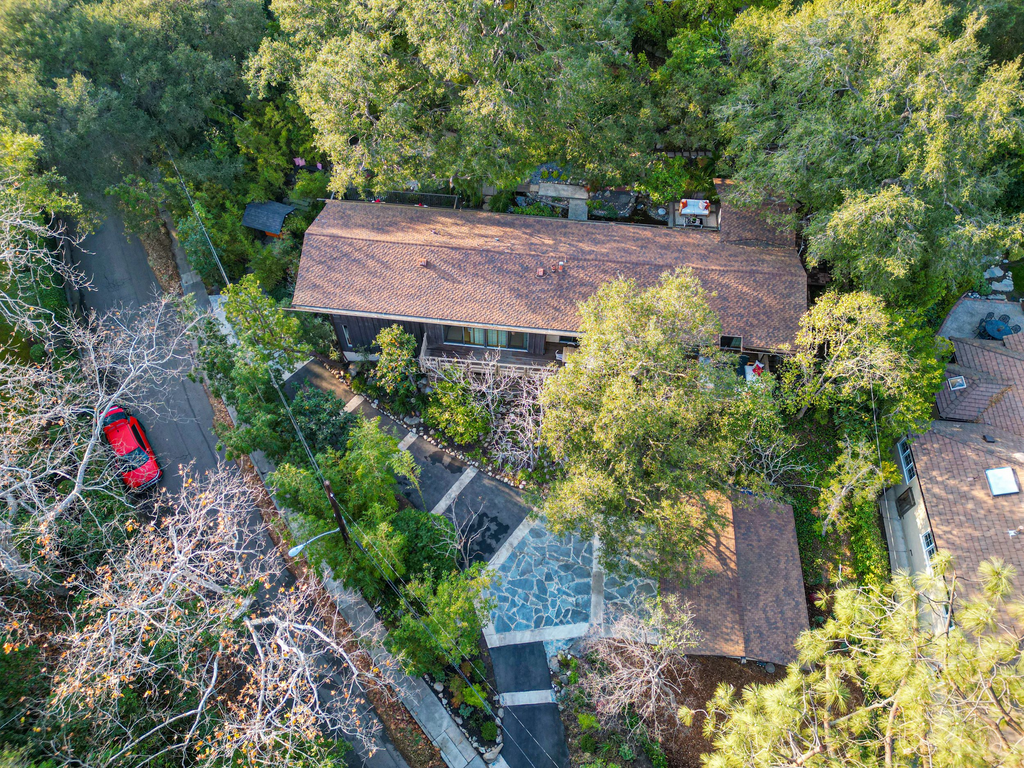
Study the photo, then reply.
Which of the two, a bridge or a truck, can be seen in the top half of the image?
bridge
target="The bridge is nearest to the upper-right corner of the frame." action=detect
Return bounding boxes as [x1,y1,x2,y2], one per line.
[538,180,589,220]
